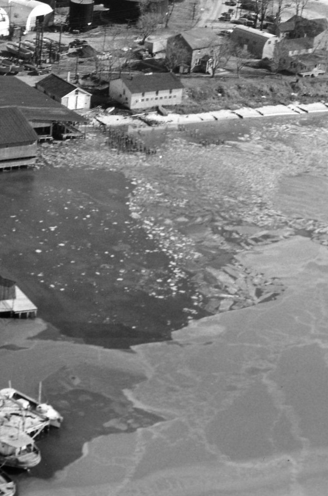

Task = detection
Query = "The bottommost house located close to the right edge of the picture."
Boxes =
[270,44,322,74]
